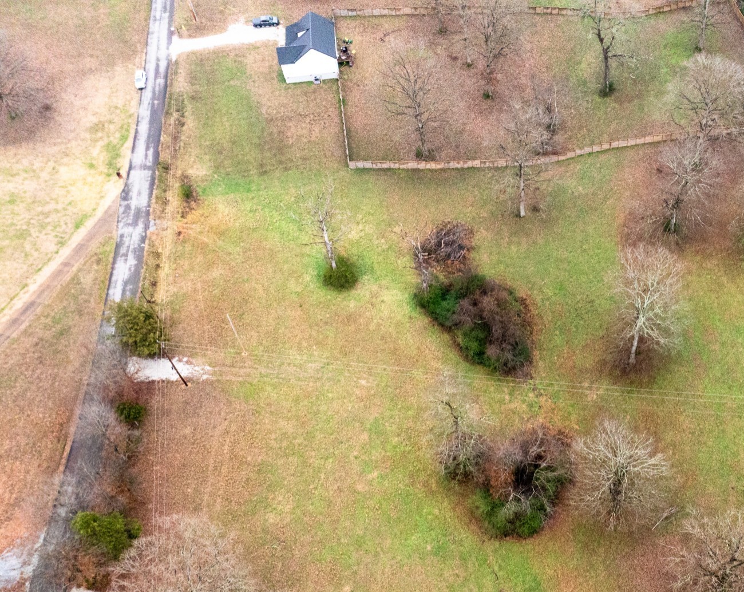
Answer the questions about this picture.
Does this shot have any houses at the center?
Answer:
No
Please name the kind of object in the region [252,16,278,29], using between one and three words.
vehicle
